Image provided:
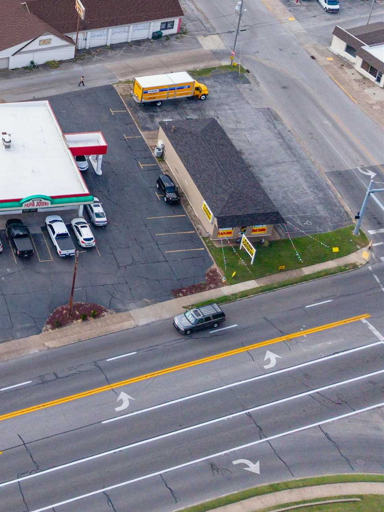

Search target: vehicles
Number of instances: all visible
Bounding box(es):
[87,197,108,227]
[154,168,180,207]
[46,218,72,257]
[72,219,95,250]
[8,220,32,258]
[73,154,92,175]
[127,68,208,104]
[319,0,339,12]
[170,299,230,334]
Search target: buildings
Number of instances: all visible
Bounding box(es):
[0,0,191,71]
[329,22,384,87]
[157,118,290,246]
[0,101,106,228]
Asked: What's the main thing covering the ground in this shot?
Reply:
paved ground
